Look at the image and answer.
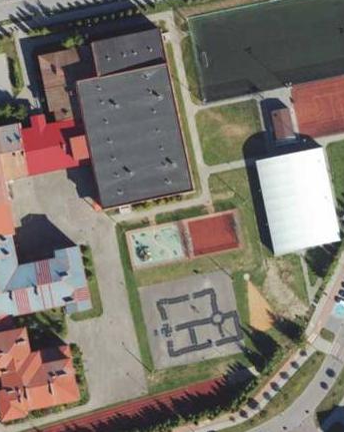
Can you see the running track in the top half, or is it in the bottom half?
bottom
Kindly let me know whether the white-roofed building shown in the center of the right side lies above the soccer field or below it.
below it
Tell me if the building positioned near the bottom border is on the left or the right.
left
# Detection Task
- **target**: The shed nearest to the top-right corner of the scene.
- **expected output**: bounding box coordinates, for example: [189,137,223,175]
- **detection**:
[271,107,295,141]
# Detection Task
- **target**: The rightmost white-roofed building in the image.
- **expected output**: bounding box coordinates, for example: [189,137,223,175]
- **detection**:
[258,148,341,256]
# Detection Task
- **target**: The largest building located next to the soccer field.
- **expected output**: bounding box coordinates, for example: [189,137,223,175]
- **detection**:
[78,64,192,216]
